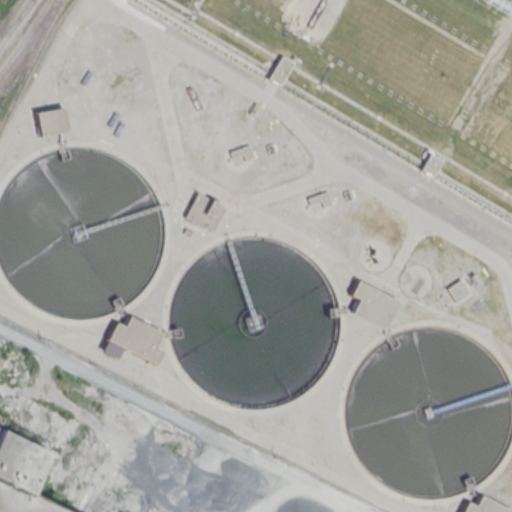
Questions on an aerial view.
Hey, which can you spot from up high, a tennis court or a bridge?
bridge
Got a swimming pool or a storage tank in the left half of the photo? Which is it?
storage tank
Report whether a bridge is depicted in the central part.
Yes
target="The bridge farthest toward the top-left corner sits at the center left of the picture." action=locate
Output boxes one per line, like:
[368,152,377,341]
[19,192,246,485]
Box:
[80,203,170,238]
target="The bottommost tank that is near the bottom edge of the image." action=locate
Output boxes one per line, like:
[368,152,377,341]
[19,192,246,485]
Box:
[342,324,512,504]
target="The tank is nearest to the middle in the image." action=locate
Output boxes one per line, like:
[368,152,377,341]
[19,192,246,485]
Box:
[164,230,342,413]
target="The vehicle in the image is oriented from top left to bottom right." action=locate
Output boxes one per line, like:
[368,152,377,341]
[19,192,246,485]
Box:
[185,87,204,111]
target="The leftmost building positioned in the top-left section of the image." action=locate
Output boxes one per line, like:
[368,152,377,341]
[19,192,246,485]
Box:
[36,110,70,136]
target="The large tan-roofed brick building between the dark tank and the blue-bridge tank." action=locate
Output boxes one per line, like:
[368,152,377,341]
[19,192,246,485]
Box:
[350,280,400,328]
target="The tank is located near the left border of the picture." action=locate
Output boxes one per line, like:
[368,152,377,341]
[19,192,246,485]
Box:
[0,140,170,326]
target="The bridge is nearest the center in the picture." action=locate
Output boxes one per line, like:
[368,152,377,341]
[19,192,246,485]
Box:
[225,234,260,332]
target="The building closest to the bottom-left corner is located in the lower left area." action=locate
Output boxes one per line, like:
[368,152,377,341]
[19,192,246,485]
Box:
[0,428,58,496]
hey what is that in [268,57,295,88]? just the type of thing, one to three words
house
